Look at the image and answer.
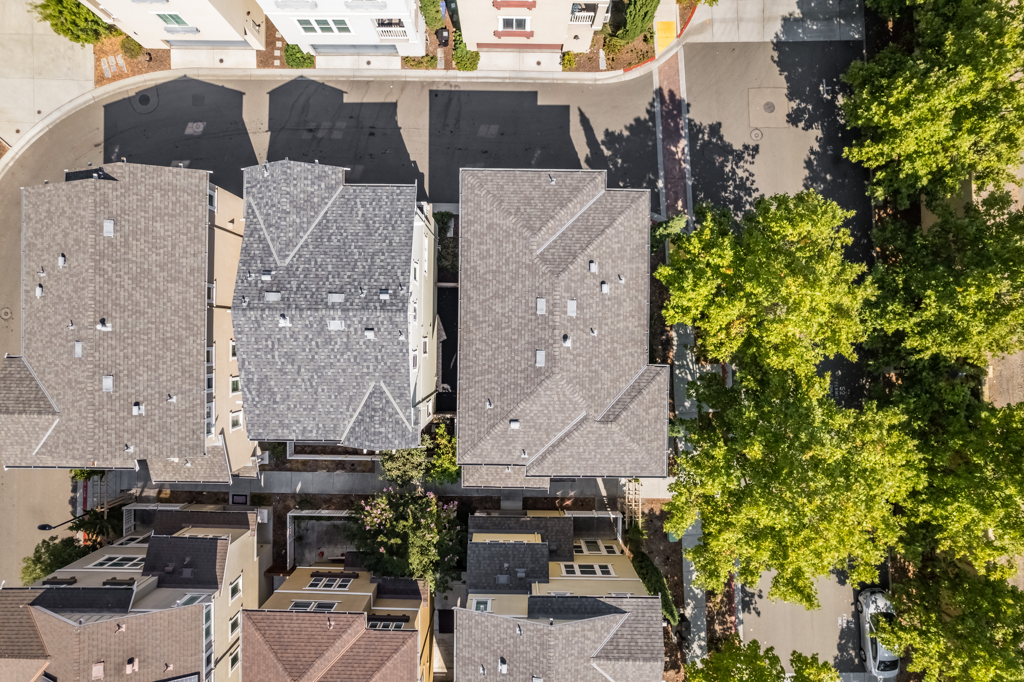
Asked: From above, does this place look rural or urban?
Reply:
urban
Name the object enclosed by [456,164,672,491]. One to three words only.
house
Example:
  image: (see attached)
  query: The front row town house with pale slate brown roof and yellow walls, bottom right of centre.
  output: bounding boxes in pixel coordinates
[450,511,670,682]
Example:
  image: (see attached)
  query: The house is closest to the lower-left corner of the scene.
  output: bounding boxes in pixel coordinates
[0,507,271,682]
